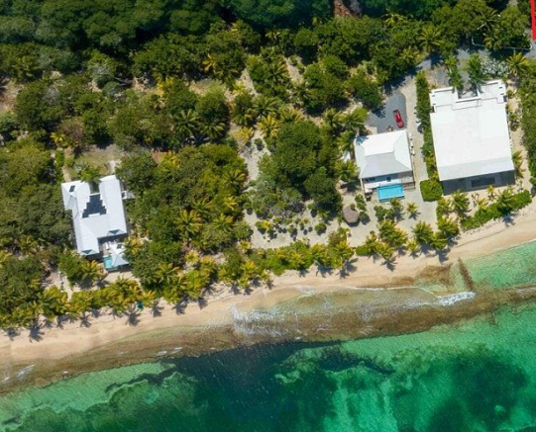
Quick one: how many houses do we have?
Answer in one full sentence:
The number of houses here is 3.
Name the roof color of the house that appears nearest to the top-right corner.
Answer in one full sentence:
The roof of the house that appears nearest to the top-right corner is white.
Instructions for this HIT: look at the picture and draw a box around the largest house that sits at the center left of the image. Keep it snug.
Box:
[62,176,133,255]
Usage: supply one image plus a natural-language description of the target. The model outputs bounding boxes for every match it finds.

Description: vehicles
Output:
[394,110,404,128]
[415,120,421,129]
